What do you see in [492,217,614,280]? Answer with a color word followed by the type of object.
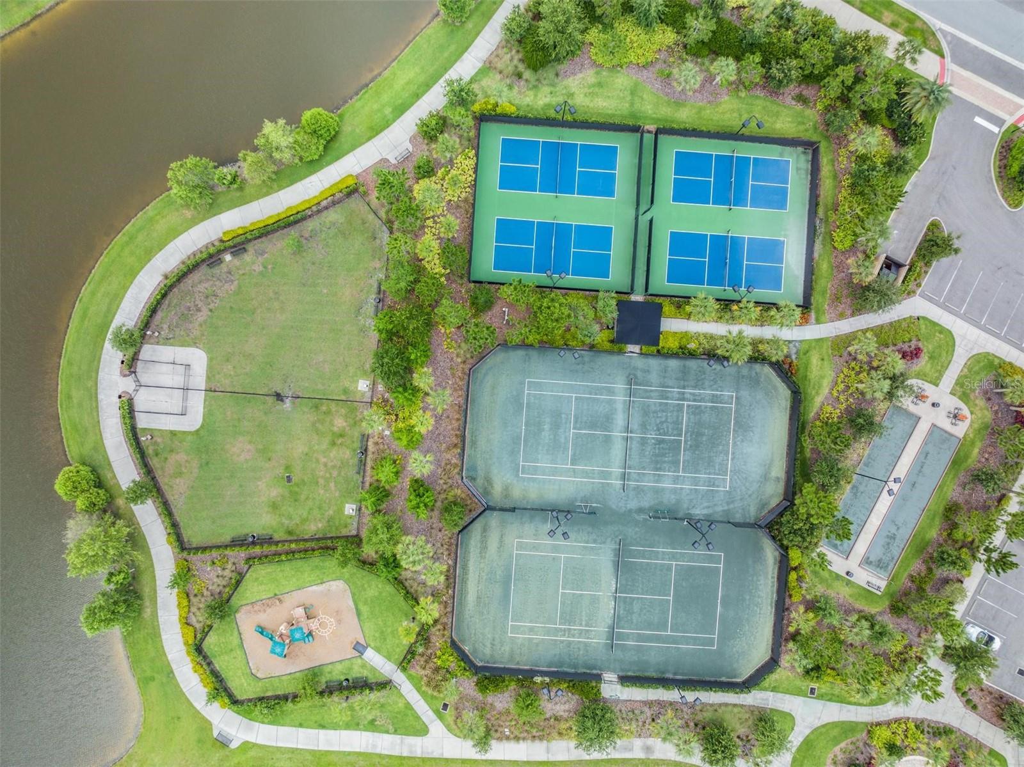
blue sports court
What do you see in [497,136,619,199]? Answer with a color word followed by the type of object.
blue sports court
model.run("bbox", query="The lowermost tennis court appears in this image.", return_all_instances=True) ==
[453,507,780,682]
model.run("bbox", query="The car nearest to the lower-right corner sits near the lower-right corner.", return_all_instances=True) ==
[962,622,1003,652]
